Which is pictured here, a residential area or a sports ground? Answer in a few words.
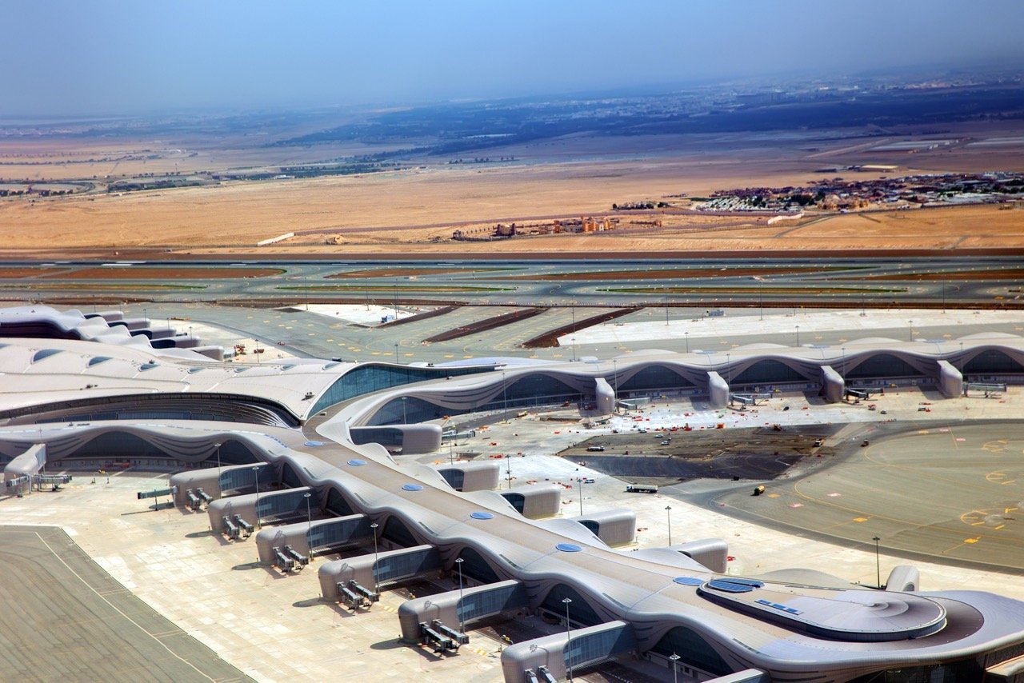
residential area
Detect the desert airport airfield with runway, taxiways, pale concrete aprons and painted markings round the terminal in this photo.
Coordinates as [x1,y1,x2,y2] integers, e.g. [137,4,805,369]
[0,247,1024,683]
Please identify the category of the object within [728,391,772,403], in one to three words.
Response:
jet bridge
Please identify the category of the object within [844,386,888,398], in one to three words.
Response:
jet bridge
